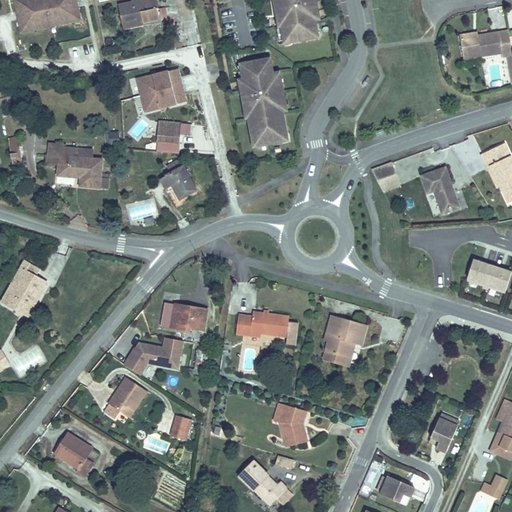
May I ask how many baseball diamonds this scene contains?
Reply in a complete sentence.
The picture shows no baseball diamonds.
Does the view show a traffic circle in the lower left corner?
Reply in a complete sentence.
No, I see no traffic circle in the lower left corner.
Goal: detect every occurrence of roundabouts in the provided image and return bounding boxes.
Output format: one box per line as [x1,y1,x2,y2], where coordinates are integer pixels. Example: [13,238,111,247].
[254,172,376,288]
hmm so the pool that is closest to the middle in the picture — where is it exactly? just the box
[243,348,256,371]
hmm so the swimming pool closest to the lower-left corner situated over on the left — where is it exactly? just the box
[147,438,170,454]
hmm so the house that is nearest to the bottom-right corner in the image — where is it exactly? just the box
[480,474,509,500]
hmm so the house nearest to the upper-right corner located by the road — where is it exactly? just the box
[460,28,512,86]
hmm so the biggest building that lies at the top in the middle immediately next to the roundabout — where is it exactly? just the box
[238,52,290,148]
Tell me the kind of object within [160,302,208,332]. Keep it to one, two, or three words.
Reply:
house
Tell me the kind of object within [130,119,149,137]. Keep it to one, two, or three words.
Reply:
swimming pool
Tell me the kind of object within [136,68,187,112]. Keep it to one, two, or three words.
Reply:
house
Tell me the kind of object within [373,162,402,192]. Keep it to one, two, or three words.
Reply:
building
